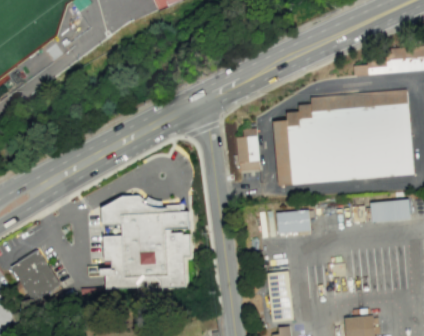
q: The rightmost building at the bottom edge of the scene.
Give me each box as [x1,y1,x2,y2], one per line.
[344,314,380,336]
